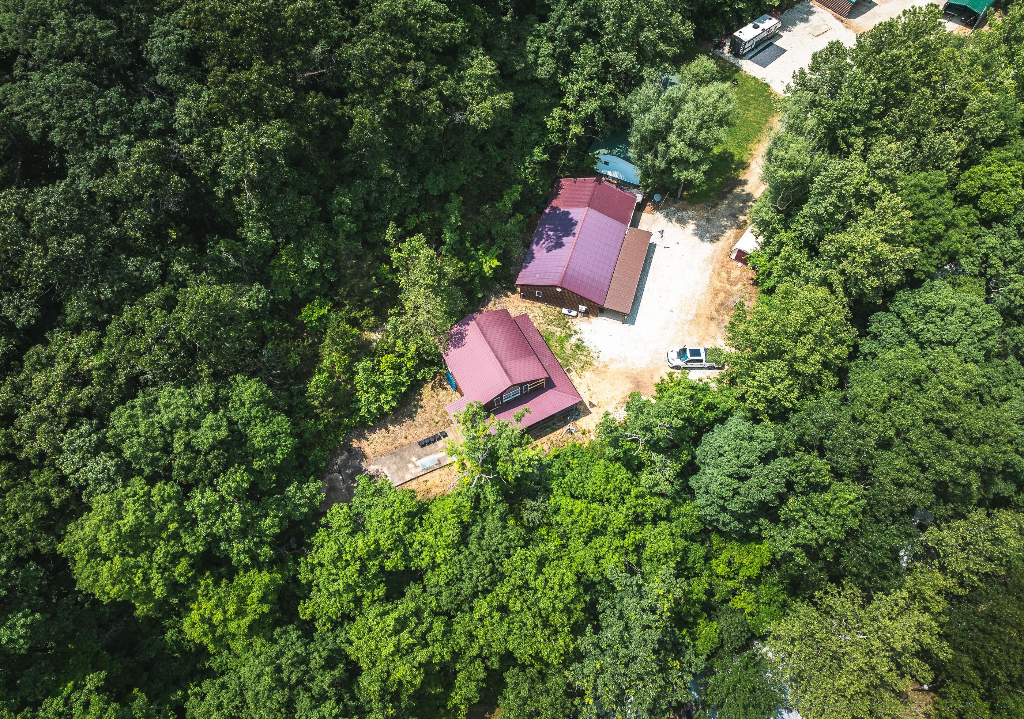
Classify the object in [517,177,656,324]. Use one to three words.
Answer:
house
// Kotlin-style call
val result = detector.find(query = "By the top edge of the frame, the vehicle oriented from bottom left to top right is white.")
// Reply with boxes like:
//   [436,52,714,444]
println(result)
[728,14,778,57]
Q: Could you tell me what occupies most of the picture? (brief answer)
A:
trees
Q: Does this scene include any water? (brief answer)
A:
No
